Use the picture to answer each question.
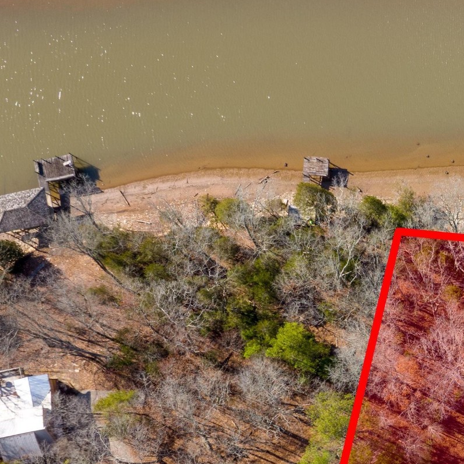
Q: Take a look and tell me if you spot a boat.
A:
No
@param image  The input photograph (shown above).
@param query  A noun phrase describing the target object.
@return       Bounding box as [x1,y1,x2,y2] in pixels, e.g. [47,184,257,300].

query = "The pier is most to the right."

[302,156,332,183]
